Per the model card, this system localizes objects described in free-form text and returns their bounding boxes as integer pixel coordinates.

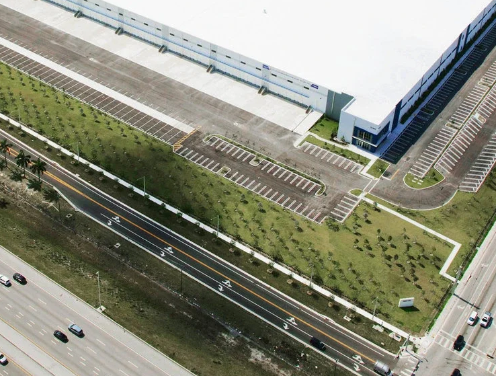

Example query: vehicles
[51,330,68,345]
[369,358,393,376]
[479,310,493,327]
[67,325,84,339]
[0,353,9,365]
[465,310,478,326]
[12,274,28,286]
[308,336,327,351]
[451,368,461,376]
[0,275,12,288]
[453,334,466,351]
